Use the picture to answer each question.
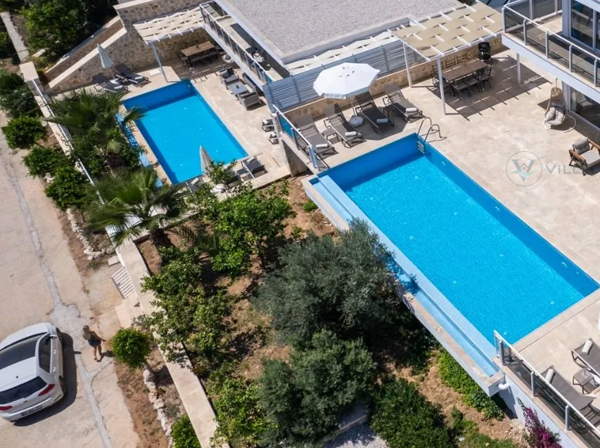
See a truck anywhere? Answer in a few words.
No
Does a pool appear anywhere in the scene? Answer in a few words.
Yes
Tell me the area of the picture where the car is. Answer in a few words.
bottom left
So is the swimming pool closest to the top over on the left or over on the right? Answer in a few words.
left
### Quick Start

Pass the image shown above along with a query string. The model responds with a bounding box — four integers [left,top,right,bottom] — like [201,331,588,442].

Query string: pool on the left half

[114,80,252,206]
